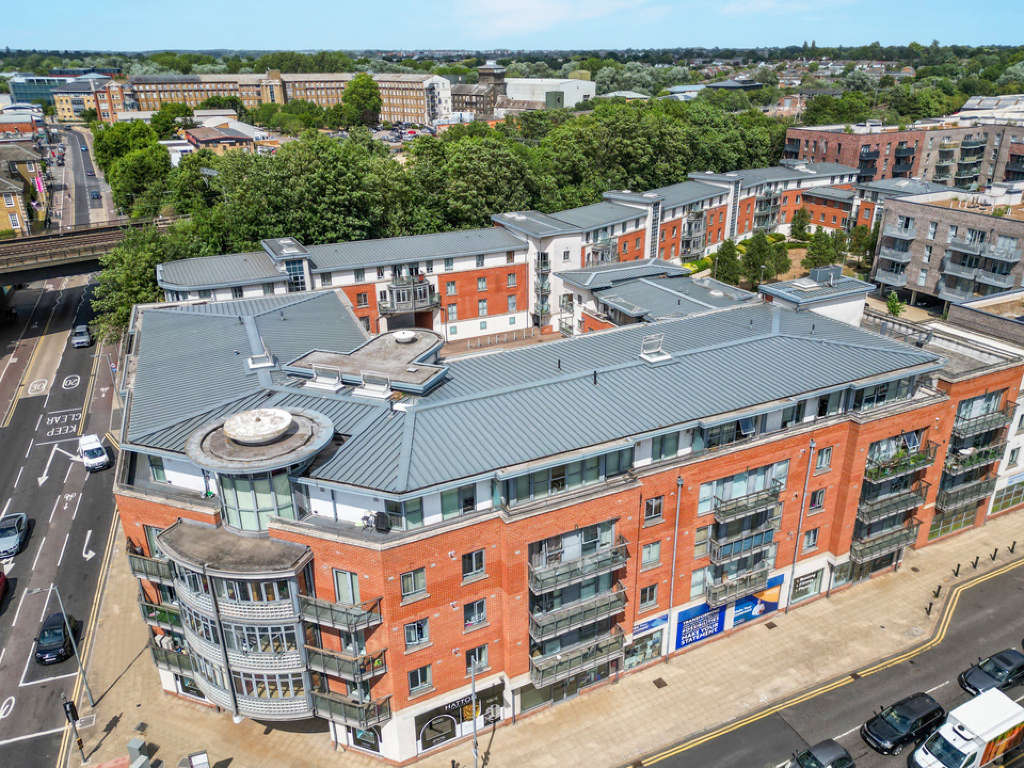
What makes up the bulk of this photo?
buildings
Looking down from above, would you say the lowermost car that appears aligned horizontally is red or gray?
gray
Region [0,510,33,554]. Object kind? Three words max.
car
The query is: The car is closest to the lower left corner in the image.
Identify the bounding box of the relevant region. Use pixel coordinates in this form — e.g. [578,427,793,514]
[36,607,80,663]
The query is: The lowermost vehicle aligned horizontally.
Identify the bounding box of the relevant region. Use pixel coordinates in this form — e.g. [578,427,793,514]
[787,732,868,768]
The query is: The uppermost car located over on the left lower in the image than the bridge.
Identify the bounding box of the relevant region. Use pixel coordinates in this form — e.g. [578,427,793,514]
[70,324,90,345]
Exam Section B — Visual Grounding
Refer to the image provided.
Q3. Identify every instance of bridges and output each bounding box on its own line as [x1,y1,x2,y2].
[0,220,166,287]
